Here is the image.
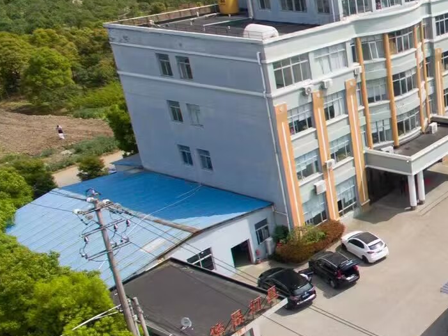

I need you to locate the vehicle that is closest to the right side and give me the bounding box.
[340,233,386,261]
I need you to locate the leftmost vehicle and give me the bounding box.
[263,268,316,306]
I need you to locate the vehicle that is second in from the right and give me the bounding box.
[308,251,356,287]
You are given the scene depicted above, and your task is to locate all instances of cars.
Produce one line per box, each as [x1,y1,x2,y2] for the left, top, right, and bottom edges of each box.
[340,233,386,261]
[308,251,356,287]
[263,268,316,306]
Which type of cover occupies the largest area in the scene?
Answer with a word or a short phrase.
buildings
